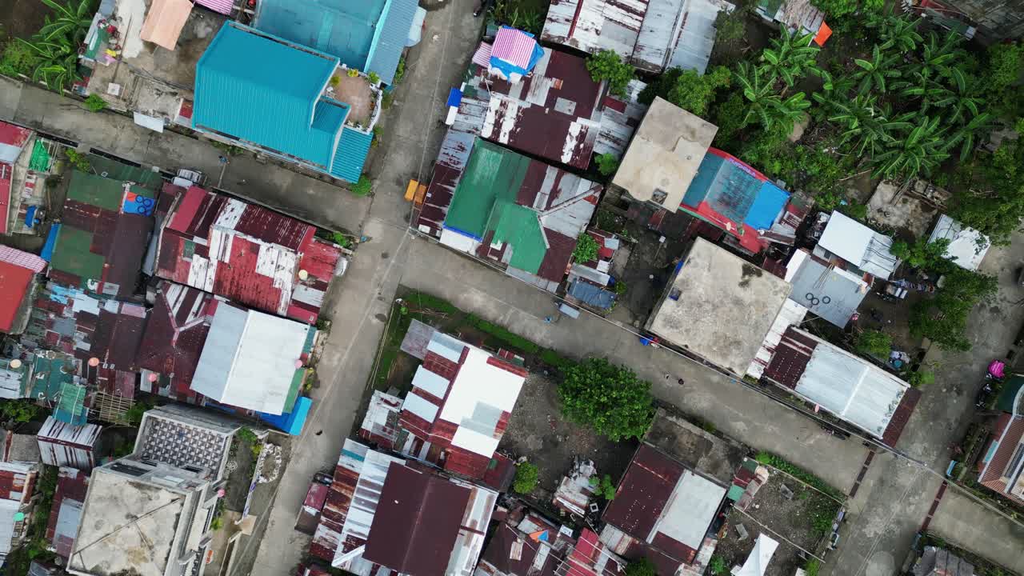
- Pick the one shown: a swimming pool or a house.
house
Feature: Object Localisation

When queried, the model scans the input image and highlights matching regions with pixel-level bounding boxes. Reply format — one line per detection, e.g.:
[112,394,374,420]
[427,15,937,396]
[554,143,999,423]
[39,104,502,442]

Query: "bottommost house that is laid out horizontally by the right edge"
[897,540,975,576]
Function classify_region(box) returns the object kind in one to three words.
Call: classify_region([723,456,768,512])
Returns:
shed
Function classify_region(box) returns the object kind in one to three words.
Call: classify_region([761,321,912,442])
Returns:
house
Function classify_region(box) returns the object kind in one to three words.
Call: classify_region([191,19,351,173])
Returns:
house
